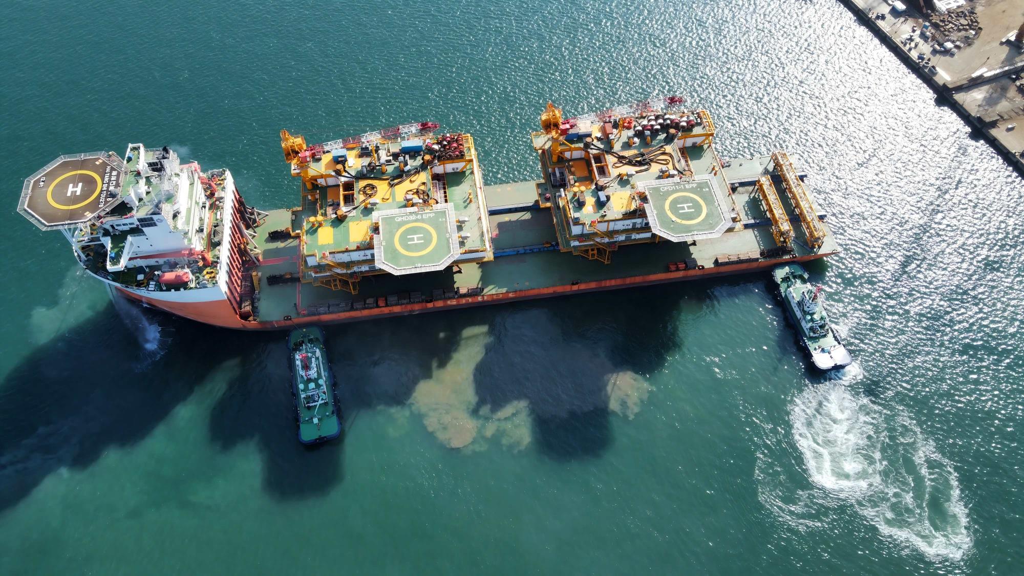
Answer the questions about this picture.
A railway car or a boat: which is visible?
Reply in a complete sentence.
Of the two, only a boat appears.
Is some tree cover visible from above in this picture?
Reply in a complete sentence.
No, there is no tree cover in the image.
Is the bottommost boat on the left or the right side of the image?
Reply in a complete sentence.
The bottommost boat sits on the left side.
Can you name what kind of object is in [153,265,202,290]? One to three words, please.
boat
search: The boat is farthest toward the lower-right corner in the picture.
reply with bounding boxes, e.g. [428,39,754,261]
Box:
[775,259,852,375]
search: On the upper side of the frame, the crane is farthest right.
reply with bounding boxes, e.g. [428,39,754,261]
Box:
[533,94,690,176]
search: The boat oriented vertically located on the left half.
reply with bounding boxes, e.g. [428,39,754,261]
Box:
[288,320,342,450]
